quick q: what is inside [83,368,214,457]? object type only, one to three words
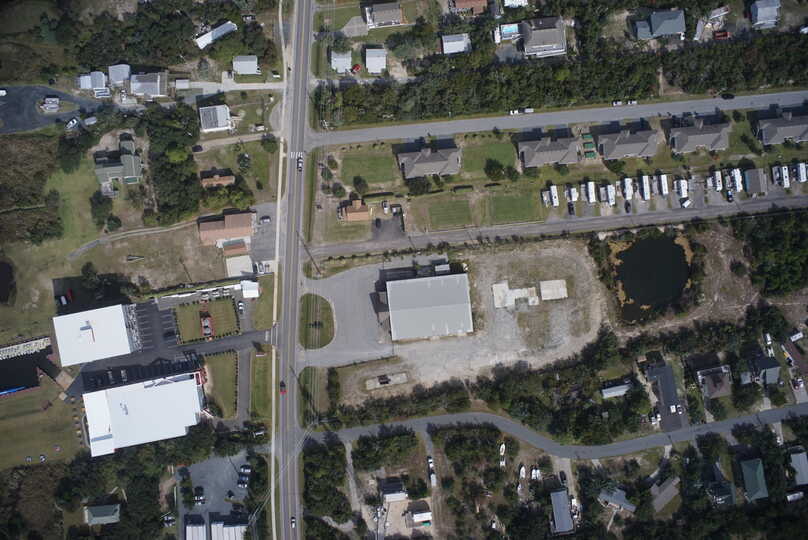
building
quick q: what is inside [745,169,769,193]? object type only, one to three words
building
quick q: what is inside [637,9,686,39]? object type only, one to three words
house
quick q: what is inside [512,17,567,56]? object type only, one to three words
house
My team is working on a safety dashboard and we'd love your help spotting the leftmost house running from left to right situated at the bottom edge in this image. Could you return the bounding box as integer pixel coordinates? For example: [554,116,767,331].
[84,504,122,524]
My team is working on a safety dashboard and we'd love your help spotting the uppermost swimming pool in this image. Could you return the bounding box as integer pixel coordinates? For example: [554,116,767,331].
[501,23,518,39]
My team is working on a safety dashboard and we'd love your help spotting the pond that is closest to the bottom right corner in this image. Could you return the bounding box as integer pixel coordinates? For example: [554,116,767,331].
[612,234,692,323]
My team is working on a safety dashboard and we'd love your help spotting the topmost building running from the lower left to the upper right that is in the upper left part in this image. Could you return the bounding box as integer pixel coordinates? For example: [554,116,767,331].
[196,21,236,51]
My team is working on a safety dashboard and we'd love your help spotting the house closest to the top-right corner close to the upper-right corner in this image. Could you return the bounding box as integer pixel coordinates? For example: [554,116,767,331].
[750,0,780,30]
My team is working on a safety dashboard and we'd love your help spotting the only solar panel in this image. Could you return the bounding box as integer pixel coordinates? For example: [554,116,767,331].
[202,107,219,129]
